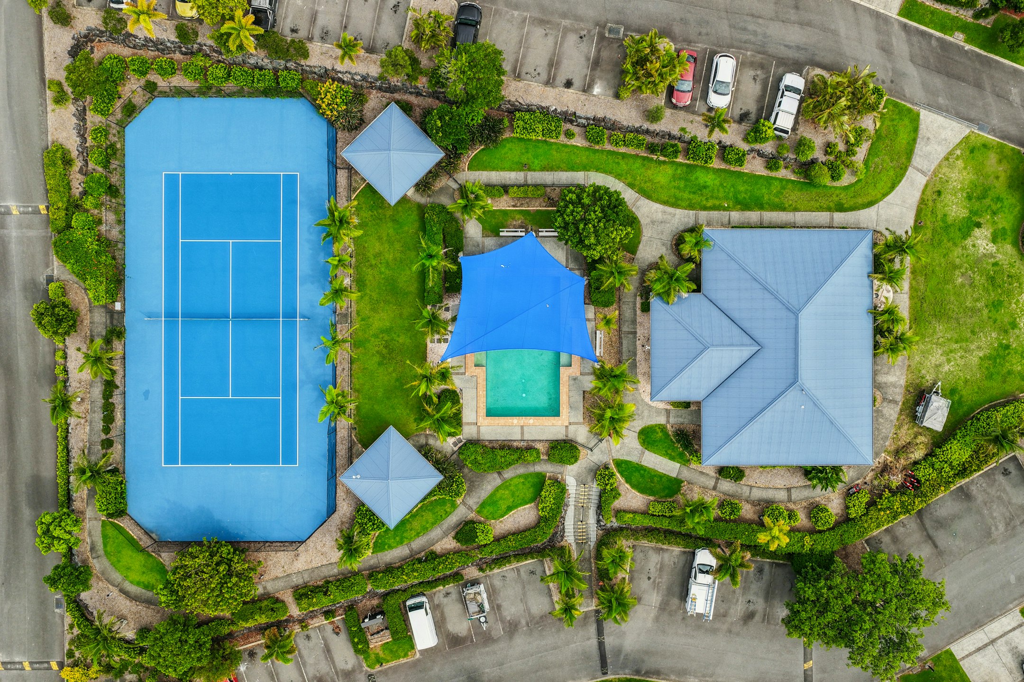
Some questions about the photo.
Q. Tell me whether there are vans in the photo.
Yes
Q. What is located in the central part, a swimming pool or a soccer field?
swimming pool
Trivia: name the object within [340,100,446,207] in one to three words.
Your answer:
gazebo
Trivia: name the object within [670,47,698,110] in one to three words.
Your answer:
car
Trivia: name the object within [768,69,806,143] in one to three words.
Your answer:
truck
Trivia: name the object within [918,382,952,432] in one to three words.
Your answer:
trailer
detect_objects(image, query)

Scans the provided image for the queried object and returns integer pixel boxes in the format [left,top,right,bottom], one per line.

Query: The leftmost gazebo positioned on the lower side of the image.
[339,424,445,530]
